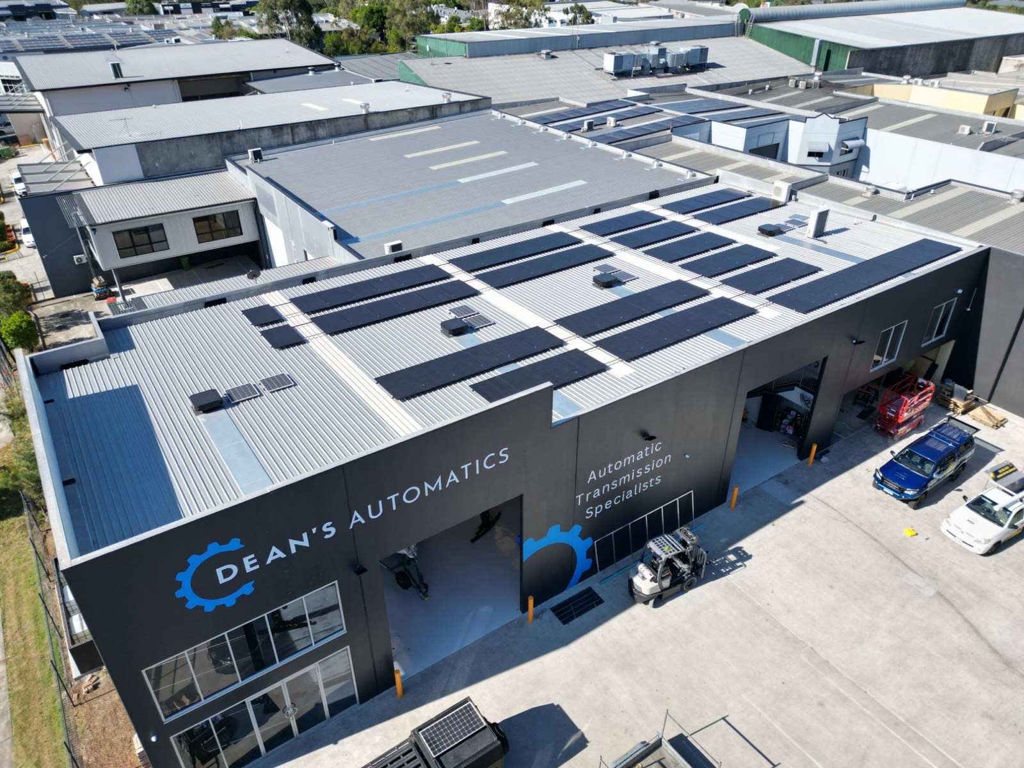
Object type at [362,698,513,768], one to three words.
vehicle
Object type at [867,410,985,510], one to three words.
truck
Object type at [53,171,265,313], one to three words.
building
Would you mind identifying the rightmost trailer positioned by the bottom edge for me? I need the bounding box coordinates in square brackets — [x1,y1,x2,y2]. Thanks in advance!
[603,712,718,768]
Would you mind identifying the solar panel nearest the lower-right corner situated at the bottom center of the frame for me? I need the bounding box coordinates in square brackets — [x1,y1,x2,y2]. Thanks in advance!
[547,583,604,624]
